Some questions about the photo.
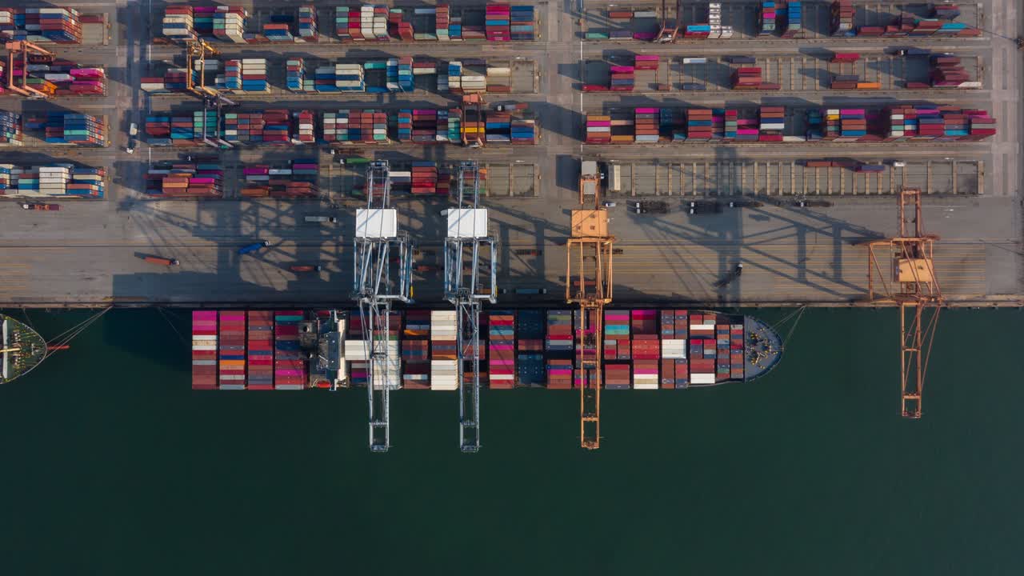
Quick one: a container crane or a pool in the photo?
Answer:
container crane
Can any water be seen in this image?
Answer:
Yes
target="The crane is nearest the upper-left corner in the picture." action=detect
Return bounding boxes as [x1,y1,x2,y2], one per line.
[4,38,51,101]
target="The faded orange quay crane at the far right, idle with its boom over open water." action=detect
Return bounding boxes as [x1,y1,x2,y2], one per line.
[843,185,943,419]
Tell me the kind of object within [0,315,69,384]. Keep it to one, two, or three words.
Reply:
ship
